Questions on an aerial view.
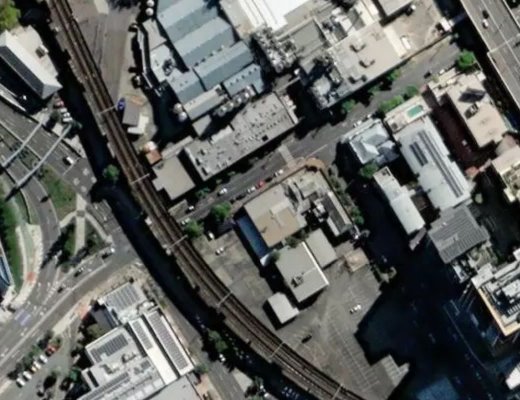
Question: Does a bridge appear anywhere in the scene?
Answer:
Yes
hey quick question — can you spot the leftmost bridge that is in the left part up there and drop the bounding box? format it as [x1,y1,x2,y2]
[46,0,364,400]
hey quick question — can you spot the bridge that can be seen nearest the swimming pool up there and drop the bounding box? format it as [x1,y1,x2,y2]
[460,0,520,104]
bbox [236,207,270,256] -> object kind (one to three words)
shed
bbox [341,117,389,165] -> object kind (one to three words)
house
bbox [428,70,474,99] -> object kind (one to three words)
house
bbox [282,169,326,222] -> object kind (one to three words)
building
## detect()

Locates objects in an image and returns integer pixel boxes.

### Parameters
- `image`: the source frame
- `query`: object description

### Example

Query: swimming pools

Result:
[405,103,427,120]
